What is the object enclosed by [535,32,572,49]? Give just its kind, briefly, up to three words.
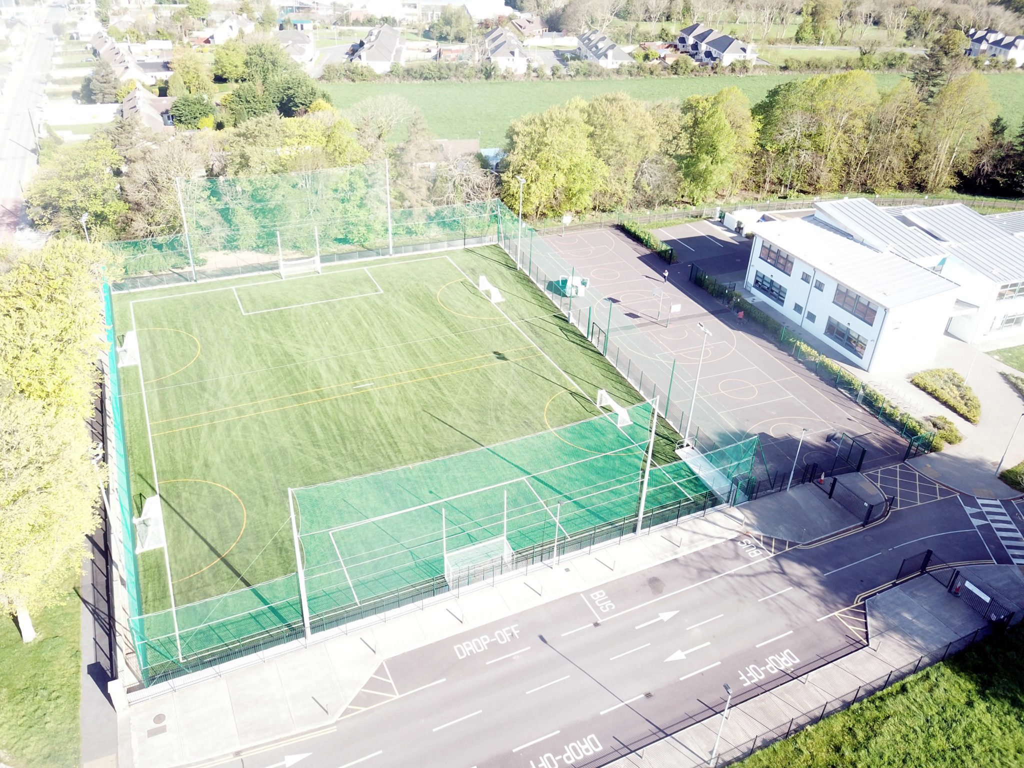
house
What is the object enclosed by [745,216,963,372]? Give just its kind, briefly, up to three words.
building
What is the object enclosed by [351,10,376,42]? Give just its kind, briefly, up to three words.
building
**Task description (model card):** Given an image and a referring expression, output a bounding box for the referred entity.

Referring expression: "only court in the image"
[499,220,905,497]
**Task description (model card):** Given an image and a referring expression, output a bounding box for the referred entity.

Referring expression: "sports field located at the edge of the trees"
[108,244,732,689]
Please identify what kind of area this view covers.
sports ground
